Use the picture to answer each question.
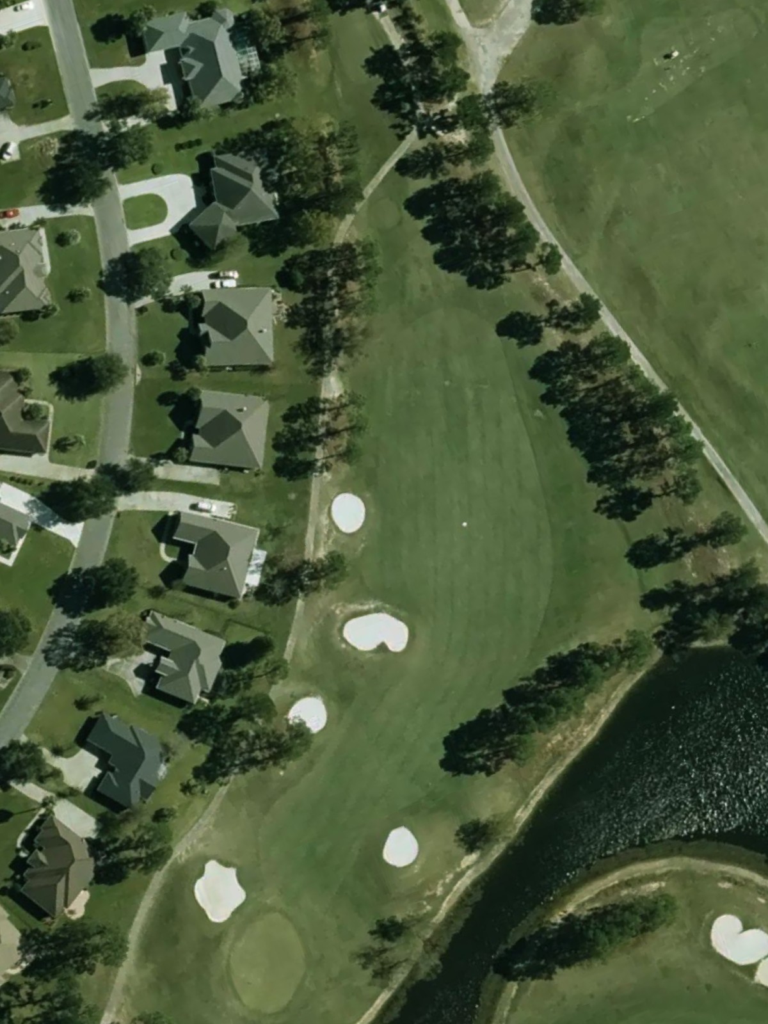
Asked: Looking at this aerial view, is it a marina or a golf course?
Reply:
golf course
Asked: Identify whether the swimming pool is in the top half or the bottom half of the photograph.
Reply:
top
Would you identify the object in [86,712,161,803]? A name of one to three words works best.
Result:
house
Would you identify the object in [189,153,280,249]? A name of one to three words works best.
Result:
house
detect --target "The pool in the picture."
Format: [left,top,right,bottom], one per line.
[233,32,255,54]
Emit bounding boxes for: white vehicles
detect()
[197,502,217,512]
[0,141,17,160]
[668,50,679,58]
[216,279,236,288]
[17,1,36,12]
[220,271,239,279]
